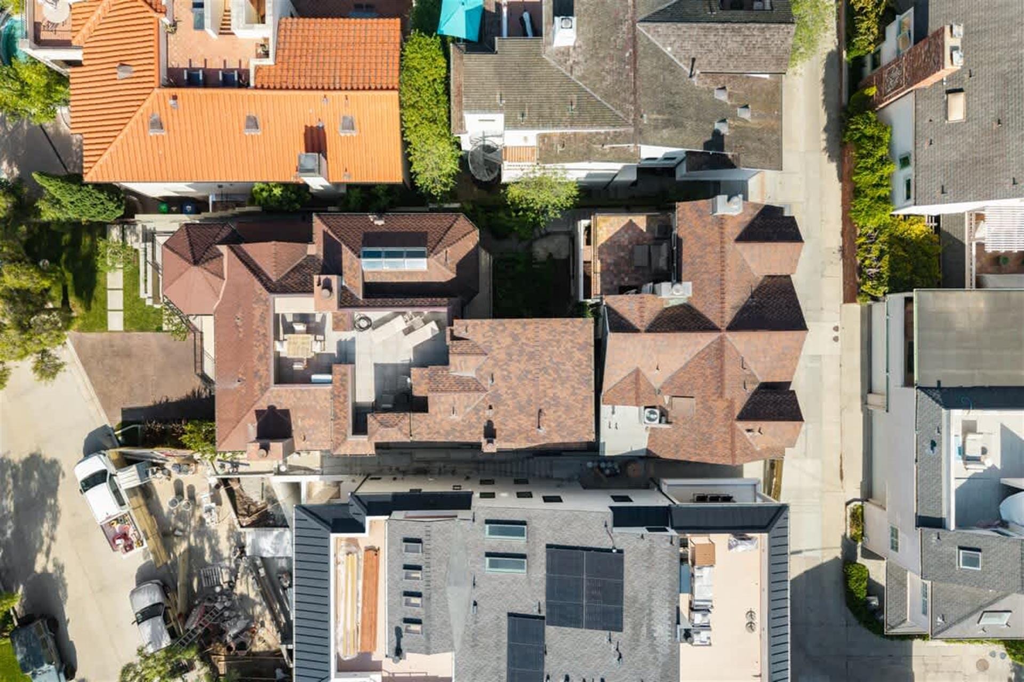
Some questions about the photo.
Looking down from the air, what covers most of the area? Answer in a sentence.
What you mostly see from above here is buildings.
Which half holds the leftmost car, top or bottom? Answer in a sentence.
The bottom half of the photo is where the leftmost car is.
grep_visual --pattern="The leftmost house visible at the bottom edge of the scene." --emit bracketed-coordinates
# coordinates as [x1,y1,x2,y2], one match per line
[292,465,791,682]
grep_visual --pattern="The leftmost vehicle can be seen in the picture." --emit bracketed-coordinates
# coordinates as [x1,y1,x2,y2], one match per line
[12,599,87,682]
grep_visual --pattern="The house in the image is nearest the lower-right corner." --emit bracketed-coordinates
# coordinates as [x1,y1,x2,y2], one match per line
[856,289,1024,648]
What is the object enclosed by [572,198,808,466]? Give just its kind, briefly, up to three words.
house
